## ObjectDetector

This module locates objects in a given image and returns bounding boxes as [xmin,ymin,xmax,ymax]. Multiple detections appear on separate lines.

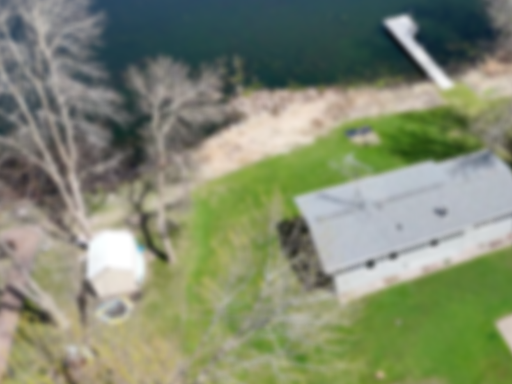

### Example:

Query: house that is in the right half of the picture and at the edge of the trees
[292,145,512,302]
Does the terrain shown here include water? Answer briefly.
Yes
